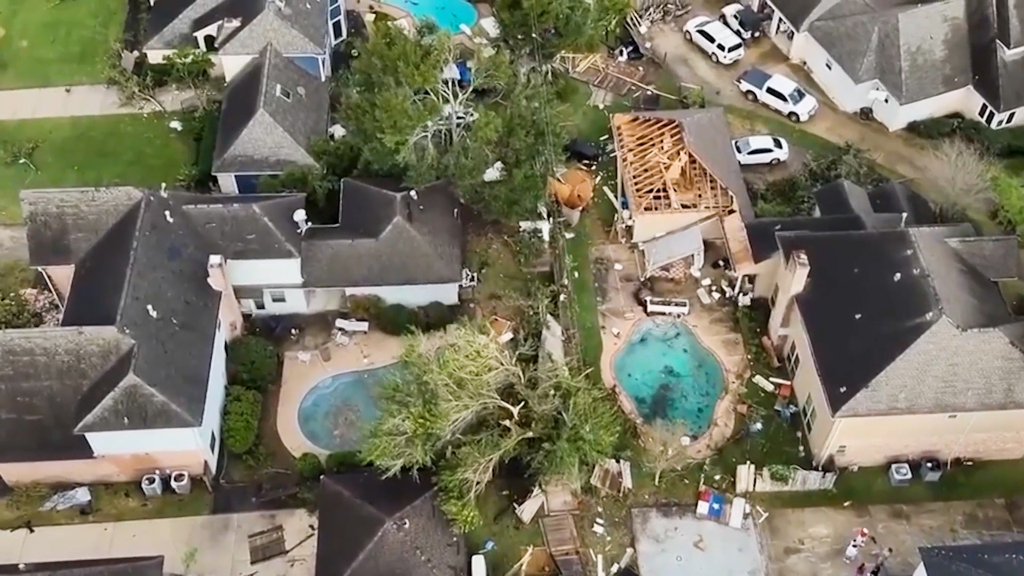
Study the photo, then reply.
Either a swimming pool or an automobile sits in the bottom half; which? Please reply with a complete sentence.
What appears in the bottom half is a swimming pool.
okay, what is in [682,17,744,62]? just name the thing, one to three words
car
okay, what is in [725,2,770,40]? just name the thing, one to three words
car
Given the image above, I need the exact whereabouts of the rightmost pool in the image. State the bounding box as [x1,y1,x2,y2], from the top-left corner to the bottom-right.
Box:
[609,314,732,445]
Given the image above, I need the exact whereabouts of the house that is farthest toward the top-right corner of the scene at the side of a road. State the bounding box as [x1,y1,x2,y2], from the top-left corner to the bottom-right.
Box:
[742,0,1024,133]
